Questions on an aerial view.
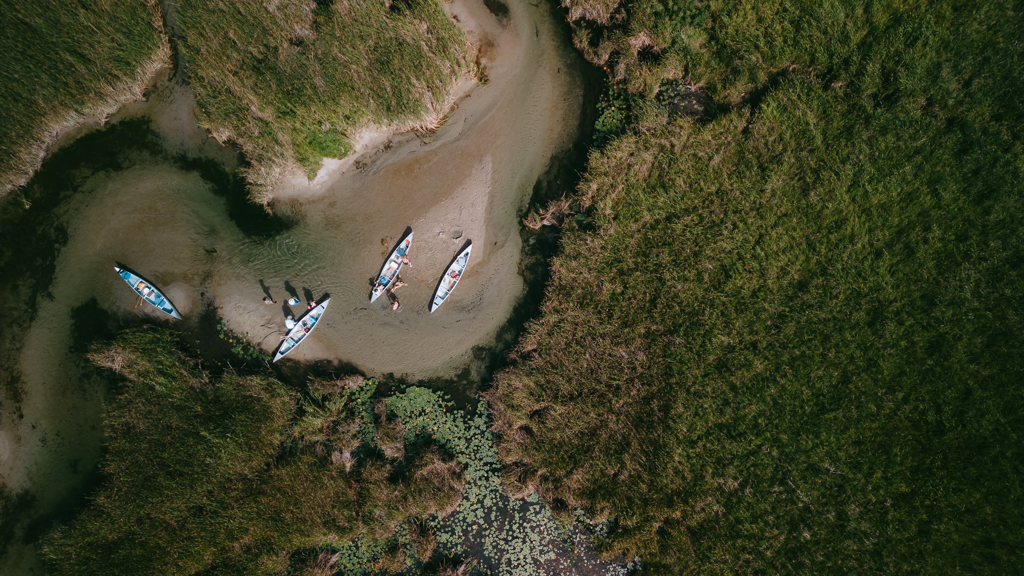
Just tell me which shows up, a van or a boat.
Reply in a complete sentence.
The one in the frame is a boat.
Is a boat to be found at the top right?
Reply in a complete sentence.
No, looking at the top right, there is no boat.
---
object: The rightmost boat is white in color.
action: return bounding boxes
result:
[430,244,472,312]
